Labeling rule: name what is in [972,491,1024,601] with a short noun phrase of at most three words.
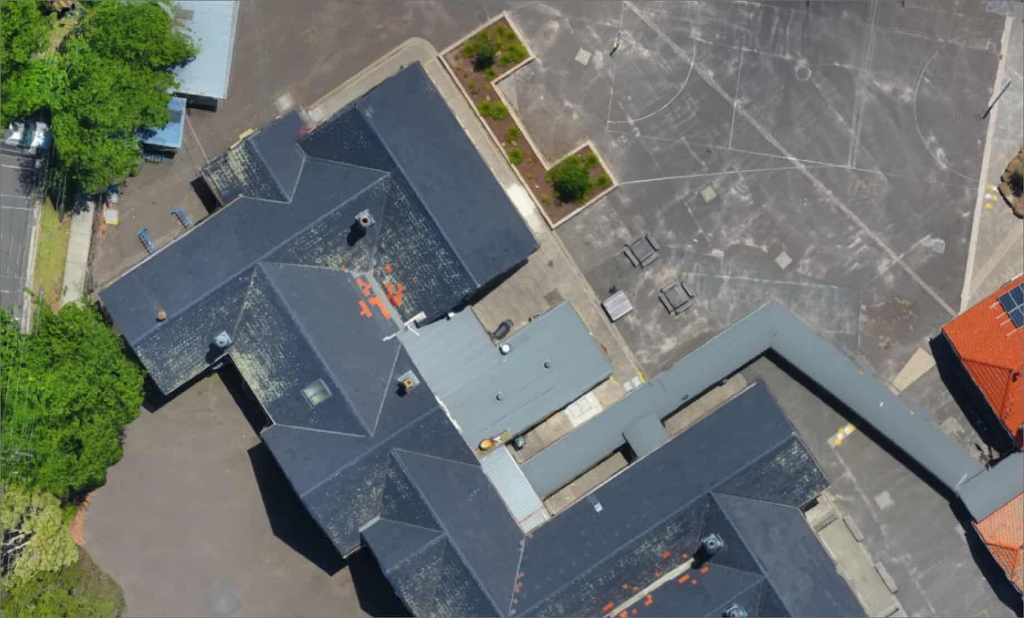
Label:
house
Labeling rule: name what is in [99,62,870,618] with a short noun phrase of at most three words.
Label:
building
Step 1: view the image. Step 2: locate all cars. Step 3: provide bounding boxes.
[0,122,50,152]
